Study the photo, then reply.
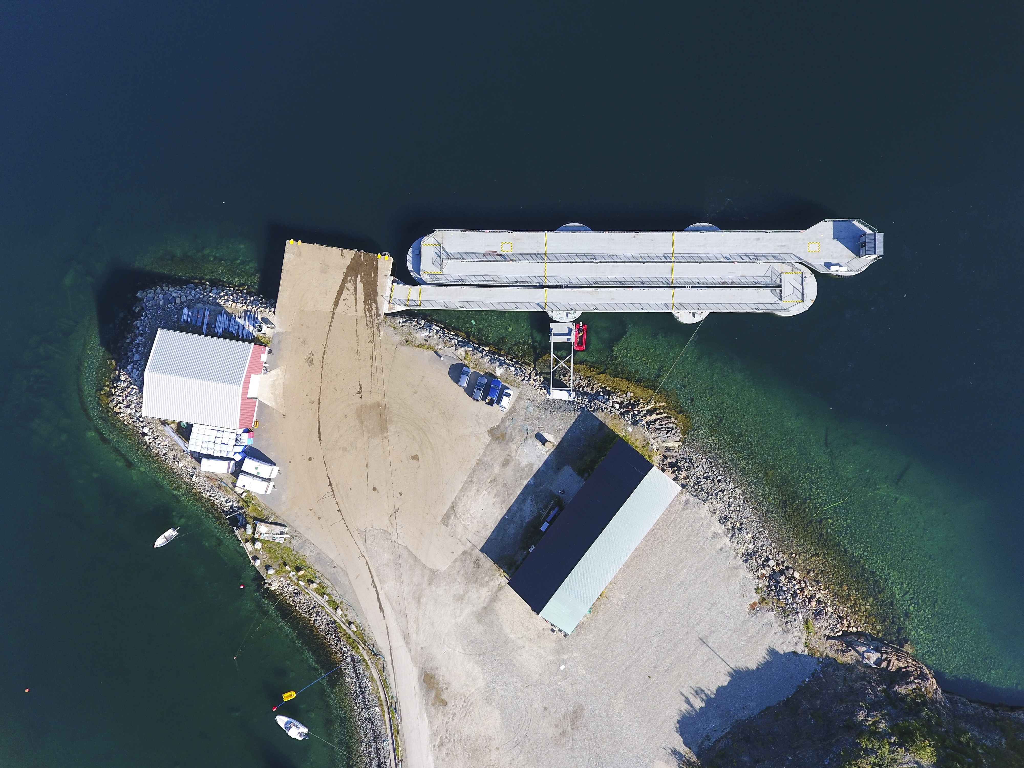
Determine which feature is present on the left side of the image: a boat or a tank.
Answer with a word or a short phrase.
boat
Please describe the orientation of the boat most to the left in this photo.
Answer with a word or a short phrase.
on a diagonal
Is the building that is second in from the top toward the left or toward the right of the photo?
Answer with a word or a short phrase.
left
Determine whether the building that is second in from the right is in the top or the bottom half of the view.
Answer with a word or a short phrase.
bottom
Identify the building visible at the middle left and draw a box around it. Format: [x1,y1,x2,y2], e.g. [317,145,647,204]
[143,327,266,432]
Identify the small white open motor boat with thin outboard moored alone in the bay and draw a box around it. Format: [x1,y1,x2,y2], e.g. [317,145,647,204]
[154,527,178,548]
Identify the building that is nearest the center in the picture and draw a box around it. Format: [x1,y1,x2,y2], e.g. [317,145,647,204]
[507,439,682,633]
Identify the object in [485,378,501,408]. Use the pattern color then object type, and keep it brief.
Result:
blue vehicle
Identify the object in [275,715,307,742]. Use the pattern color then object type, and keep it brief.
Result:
white boat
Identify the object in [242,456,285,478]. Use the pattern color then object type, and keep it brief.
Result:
white camper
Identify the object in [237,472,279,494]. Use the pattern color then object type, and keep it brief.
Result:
white camper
